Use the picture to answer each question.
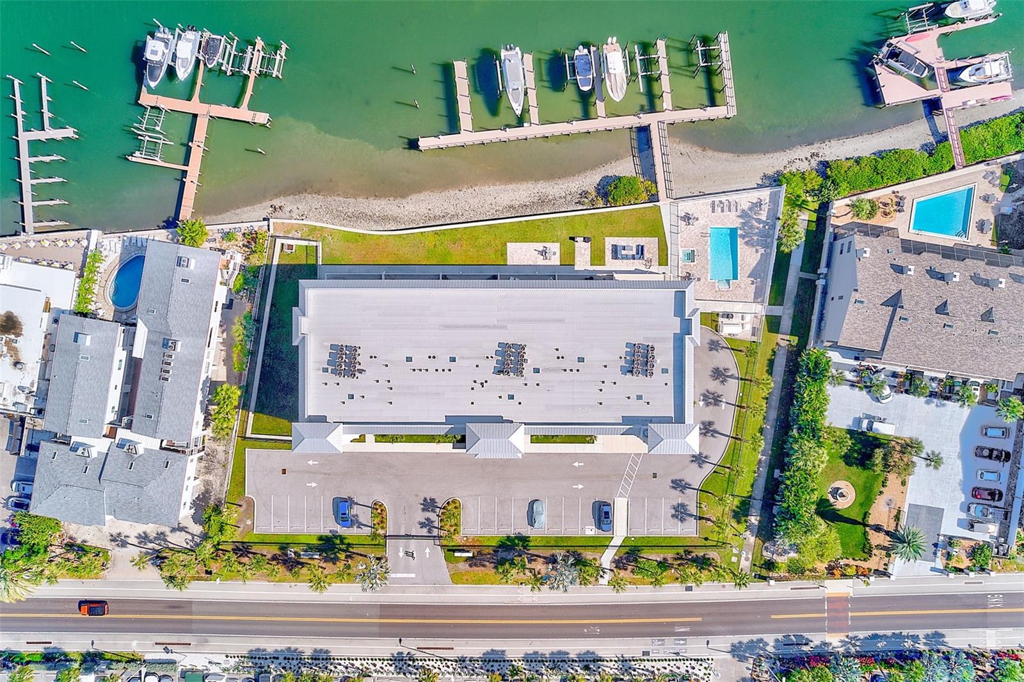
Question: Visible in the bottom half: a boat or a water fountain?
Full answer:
Looking in the bottom half, you will find a water fountain.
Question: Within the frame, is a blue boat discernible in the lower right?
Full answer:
No, no blue boat can be made out in the lower right.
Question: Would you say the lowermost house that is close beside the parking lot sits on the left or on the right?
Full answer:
The lowermost house that is close beside the parking lot sits on the left side.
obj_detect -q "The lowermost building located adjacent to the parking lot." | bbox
[30,427,205,528]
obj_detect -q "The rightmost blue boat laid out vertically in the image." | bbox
[574,42,592,91]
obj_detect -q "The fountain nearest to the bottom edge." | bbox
[828,480,855,507]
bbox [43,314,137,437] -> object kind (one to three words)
house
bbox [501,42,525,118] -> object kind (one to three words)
boat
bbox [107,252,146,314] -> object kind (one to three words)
swimming pool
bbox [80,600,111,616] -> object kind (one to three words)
car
